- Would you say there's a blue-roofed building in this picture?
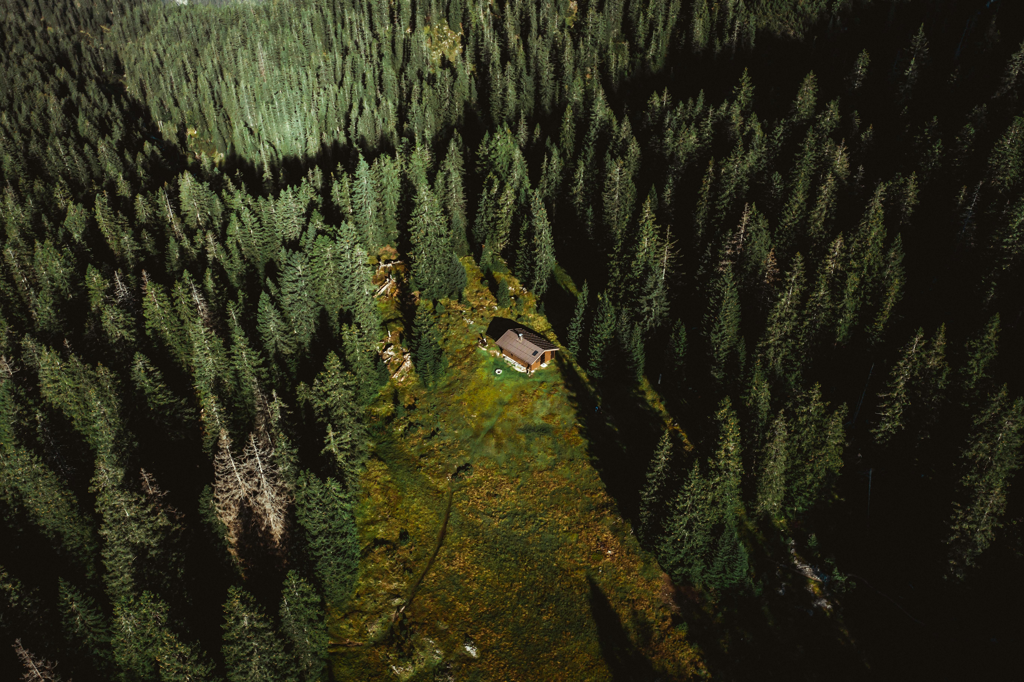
No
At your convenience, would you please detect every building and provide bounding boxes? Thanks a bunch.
[494,328,560,374]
